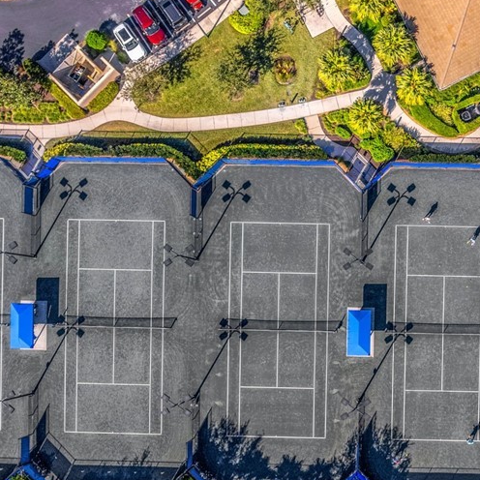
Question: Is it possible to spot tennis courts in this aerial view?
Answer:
Yes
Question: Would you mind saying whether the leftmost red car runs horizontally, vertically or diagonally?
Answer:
diagonally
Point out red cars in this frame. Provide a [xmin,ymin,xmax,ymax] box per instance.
[132,1,167,46]
[189,0,207,9]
